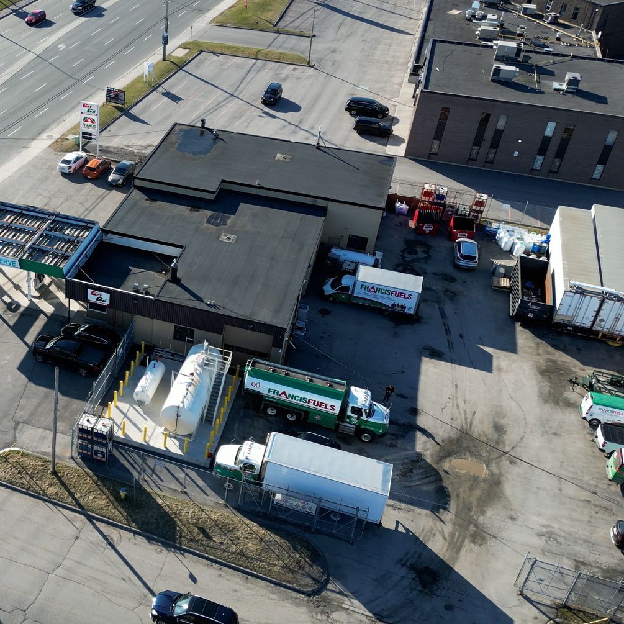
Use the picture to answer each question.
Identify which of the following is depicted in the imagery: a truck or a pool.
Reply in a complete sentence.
Looking from above, you can make out a truck.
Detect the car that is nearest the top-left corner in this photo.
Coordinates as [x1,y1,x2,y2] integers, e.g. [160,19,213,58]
[20,7,45,24]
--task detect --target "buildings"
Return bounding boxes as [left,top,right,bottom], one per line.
[400,38,624,192]
[64,121,397,375]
